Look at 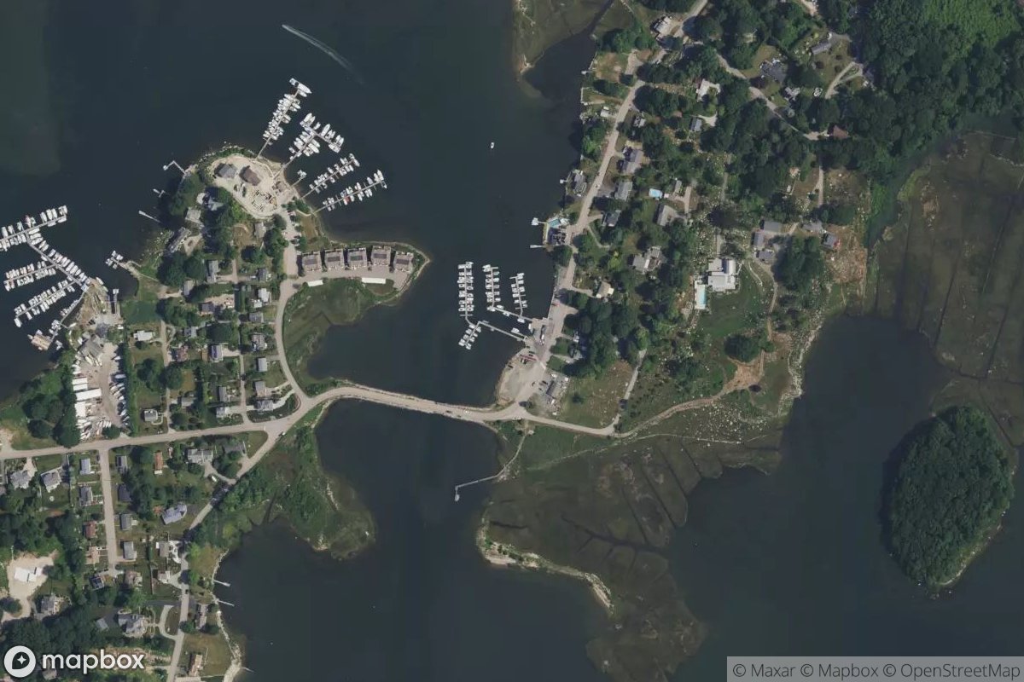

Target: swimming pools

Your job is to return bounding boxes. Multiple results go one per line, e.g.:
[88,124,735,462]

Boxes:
[649,189,662,198]
[695,281,706,308]
[547,217,563,230]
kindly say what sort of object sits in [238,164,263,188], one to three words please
building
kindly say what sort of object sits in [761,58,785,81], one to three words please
house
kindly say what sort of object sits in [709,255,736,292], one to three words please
house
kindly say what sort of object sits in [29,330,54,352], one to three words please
ship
